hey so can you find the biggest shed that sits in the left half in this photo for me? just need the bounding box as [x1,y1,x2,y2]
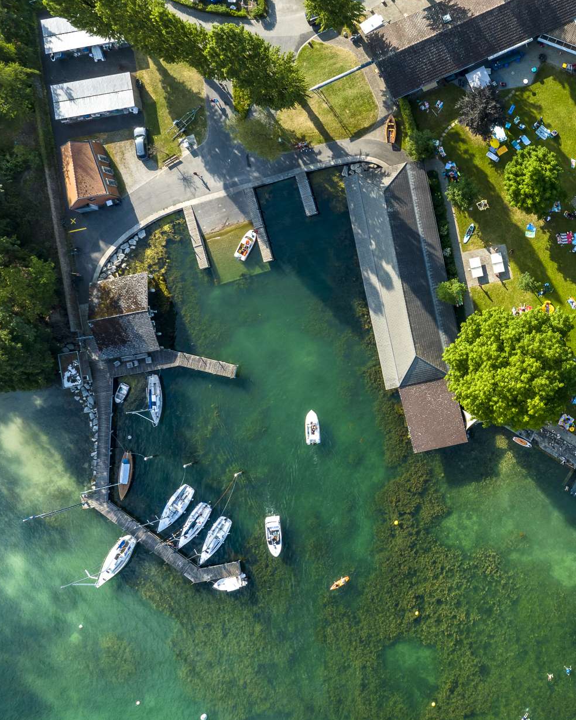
[88,273,170,358]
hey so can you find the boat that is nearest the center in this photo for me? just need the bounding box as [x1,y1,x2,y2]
[306,409,321,447]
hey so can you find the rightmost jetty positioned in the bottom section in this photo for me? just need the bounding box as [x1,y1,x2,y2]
[193,553,253,587]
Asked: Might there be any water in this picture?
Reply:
Yes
